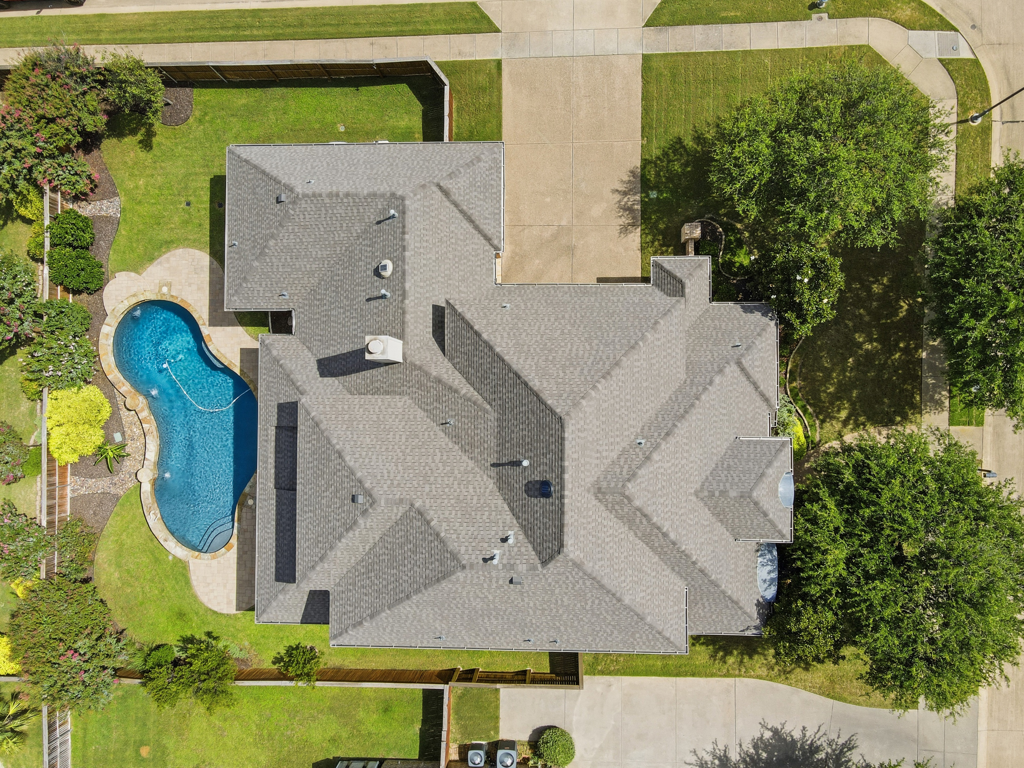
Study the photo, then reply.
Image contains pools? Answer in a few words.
Yes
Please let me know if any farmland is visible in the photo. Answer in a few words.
No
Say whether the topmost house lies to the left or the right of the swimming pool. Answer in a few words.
right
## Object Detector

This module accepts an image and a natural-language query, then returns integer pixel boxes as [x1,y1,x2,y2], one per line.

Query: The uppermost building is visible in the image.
[224,141,798,656]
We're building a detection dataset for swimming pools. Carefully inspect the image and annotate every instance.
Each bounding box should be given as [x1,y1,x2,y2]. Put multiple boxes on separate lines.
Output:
[96,286,257,562]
